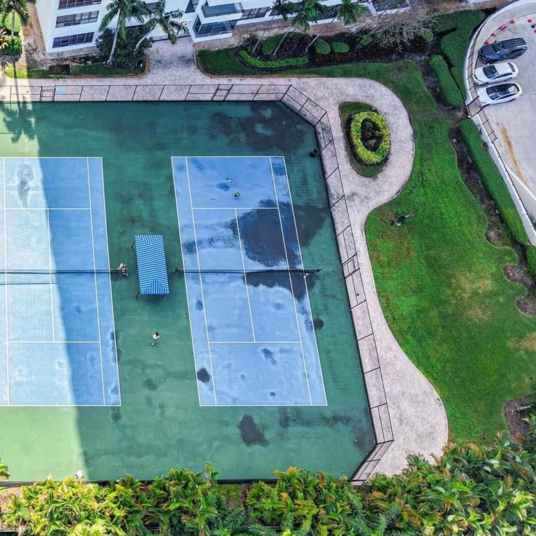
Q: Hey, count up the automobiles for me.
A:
three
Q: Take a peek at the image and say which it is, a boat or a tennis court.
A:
tennis court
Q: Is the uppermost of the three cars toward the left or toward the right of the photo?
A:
right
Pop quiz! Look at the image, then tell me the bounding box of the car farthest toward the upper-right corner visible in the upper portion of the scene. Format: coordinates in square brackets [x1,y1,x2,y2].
[479,35,531,67]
